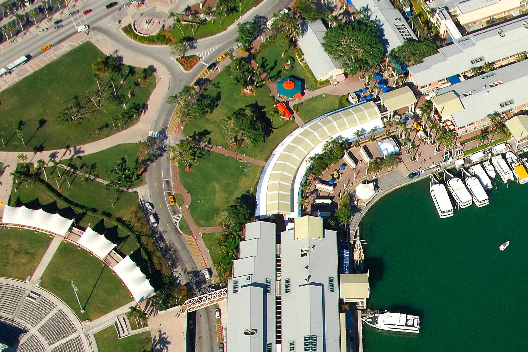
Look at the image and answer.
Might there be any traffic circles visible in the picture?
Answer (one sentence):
No, I can see no traffic circle in this picture.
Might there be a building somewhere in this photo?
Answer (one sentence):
Yes, there's a building down there.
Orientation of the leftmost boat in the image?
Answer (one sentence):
In this picture, the leftmost boat is oriented up and down.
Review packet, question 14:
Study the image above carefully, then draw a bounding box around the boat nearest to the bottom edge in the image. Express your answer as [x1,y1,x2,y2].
[362,312,422,330]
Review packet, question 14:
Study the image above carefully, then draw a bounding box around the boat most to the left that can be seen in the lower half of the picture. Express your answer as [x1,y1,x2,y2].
[345,221,372,273]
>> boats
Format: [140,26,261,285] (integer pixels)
[444,167,471,211]
[496,158,514,185]
[499,241,509,253]
[362,312,422,330]
[484,161,496,180]
[510,154,528,186]
[469,157,494,191]
[430,173,451,219]
[462,167,488,210]
[345,221,372,273]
